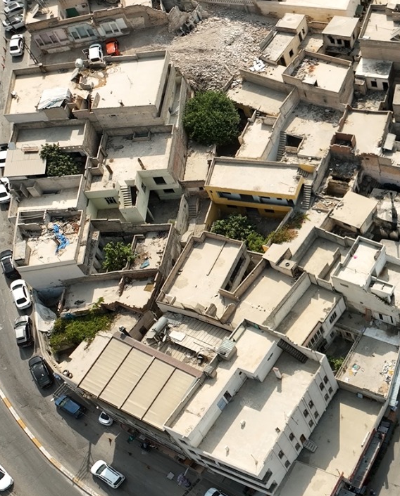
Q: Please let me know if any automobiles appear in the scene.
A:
Yes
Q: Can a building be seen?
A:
Yes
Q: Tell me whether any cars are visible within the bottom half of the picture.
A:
Yes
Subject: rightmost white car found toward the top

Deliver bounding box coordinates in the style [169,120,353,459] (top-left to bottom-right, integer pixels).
[88,44,102,59]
